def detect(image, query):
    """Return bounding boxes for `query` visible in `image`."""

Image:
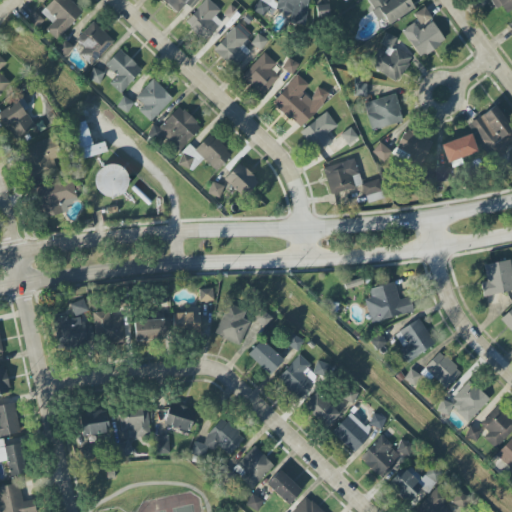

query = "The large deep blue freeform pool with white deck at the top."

[353,16,381,43]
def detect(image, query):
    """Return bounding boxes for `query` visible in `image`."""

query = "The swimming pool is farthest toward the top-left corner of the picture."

[70,48,88,70]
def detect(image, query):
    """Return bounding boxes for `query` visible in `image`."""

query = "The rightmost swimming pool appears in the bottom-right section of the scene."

[448,410,466,430]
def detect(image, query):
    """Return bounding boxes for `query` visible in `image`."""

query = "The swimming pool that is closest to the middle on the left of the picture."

[172,288,197,304]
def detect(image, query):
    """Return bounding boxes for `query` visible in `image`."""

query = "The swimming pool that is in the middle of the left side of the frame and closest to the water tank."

[66,200,83,222]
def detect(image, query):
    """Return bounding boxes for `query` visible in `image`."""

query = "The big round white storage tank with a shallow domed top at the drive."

[95,164,128,196]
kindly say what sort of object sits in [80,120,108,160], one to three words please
building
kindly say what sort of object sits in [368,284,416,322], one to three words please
house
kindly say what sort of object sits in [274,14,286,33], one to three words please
swimming pool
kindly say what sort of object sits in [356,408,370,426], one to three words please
swimming pool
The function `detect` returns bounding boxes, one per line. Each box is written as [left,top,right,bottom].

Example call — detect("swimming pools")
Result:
[66,200,83,222]
[172,288,197,304]
[274,14,286,33]
[350,302,366,324]
[70,48,88,70]
[353,16,381,43]
[356,408,370,426]
[448,410,466,430]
